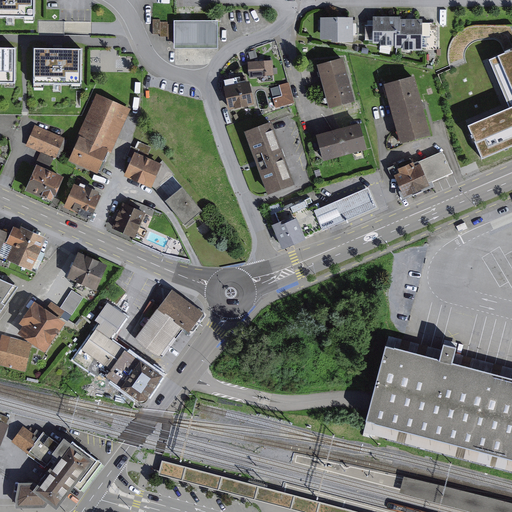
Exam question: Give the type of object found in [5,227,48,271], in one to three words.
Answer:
house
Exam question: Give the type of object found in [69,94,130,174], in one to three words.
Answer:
barn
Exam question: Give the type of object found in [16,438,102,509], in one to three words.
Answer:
building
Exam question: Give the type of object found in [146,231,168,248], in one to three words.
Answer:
swimming pool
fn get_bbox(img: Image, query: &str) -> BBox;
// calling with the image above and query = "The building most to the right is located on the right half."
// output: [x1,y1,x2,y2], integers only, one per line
[467,48,512,158]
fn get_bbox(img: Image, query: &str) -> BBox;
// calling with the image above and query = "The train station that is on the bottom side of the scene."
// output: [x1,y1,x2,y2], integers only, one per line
[283,453,403,512]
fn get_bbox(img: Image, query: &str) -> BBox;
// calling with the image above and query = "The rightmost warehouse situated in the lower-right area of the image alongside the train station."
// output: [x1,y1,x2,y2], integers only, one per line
[363,344,512,474]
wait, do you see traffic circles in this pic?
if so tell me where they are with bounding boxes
[205,267,256,318]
